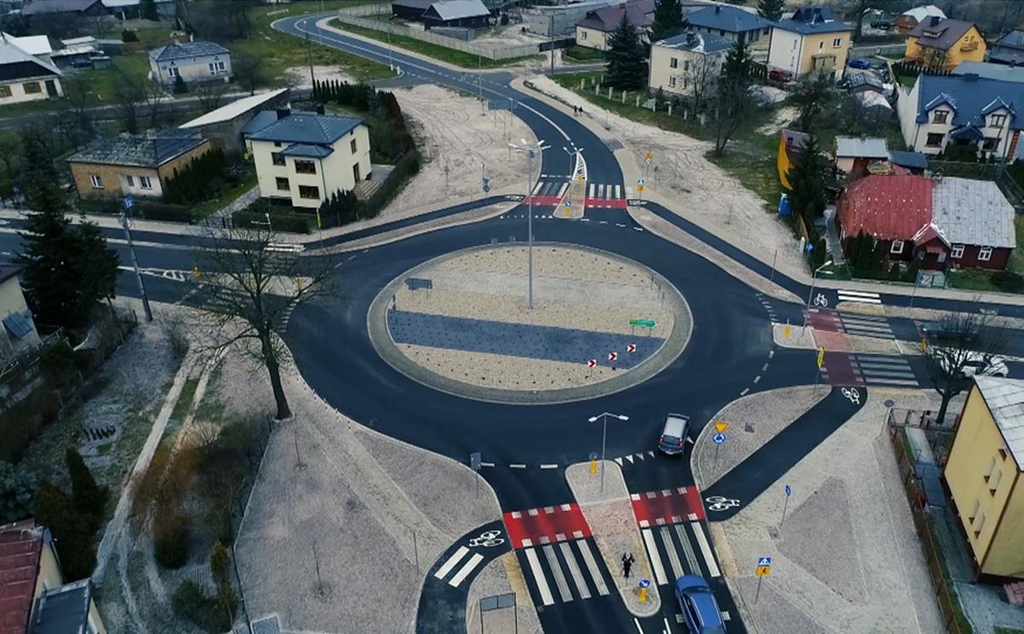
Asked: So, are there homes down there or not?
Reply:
Yes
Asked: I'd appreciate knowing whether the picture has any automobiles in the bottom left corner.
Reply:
No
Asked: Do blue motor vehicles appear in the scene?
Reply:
Yes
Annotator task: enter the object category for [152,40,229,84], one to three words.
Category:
house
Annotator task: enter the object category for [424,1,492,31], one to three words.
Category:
barn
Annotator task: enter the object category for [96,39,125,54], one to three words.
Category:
shed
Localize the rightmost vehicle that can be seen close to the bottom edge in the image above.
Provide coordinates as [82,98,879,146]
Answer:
[674,574,732,634]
